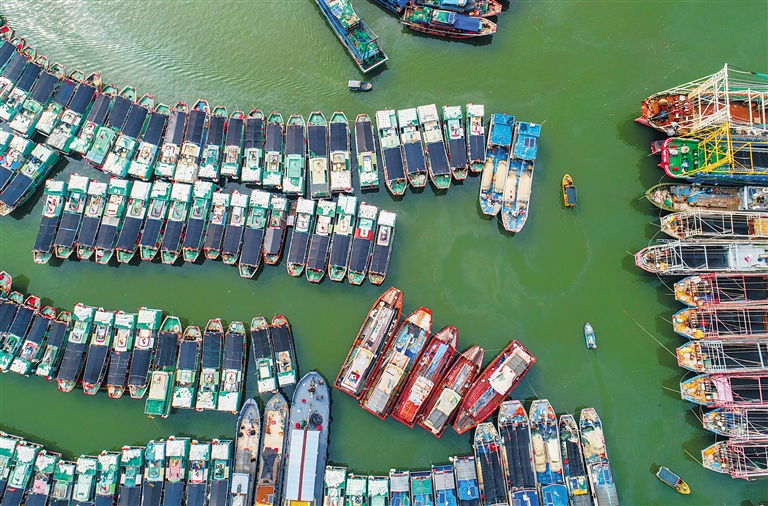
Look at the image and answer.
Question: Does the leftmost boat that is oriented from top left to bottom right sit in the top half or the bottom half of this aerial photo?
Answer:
top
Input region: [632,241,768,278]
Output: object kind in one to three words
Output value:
boat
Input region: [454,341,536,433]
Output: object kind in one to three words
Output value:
boat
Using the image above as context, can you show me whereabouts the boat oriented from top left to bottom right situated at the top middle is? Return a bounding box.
[314,0,388,76]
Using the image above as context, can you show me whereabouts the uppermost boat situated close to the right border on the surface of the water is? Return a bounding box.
[637,60,768,133]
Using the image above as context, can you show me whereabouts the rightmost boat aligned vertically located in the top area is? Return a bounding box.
[562,174,578,208]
